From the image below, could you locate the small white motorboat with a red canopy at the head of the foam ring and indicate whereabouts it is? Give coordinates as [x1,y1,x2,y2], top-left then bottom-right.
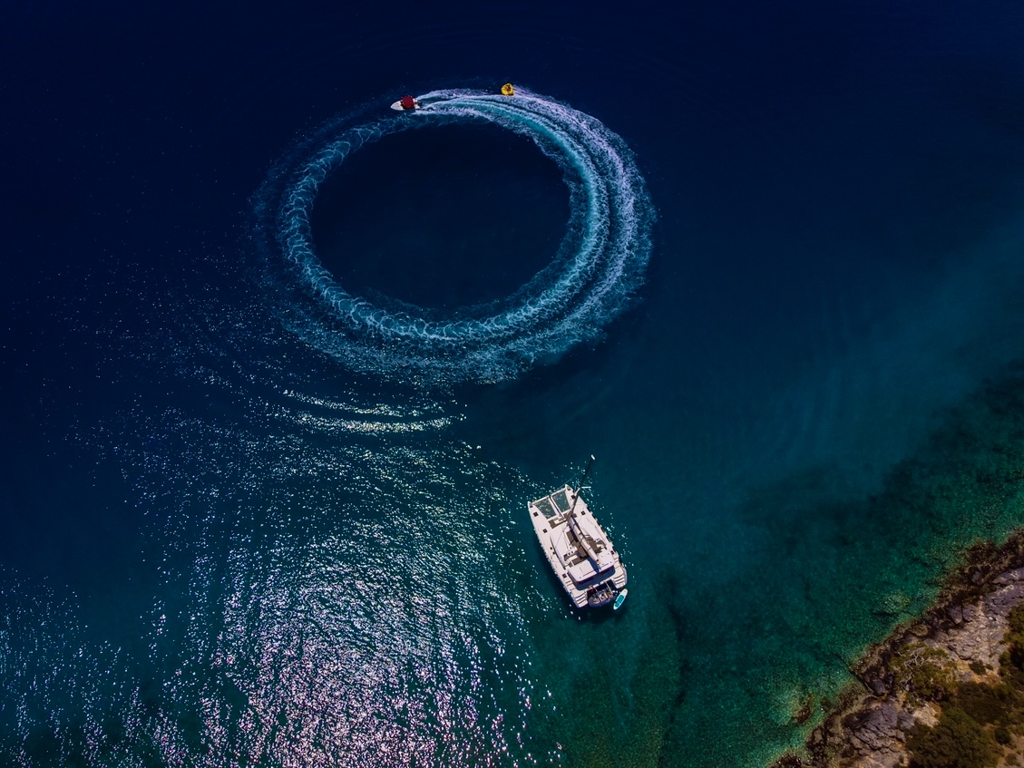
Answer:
[390,95,423,112]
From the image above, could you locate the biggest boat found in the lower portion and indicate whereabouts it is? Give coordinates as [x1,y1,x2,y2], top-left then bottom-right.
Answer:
[496,446,624,609]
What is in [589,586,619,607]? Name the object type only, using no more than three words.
boat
